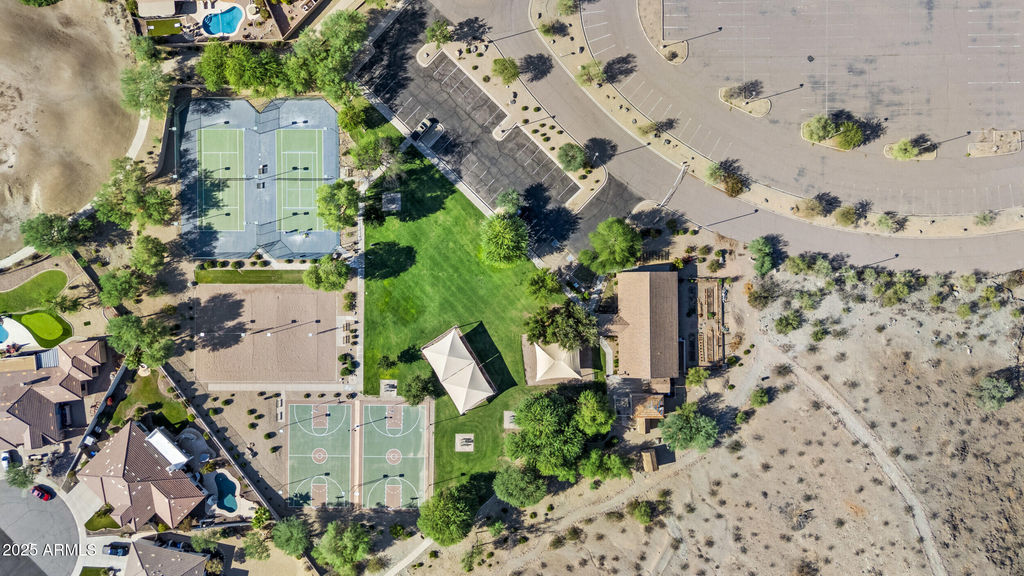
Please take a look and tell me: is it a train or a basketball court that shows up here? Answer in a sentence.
There is a basketball court in the scene.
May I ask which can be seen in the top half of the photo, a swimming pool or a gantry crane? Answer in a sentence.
Looking in the top half of the photo, you will find a swimming pool.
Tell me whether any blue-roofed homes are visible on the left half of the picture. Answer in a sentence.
No, there's no blue-roofed home to be seen on the left half of the picture.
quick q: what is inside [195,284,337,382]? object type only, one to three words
sports court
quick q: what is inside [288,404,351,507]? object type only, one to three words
basketball court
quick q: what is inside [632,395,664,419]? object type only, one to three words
house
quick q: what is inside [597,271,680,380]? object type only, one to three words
building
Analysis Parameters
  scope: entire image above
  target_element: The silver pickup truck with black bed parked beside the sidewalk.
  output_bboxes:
[408,118,431,142]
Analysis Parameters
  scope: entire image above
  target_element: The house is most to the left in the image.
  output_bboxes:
[0,341,103,449]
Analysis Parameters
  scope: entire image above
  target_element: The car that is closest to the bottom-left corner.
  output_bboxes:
[29,487,49,502]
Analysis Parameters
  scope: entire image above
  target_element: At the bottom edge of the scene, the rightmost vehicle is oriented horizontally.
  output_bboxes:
[102,545,129,557]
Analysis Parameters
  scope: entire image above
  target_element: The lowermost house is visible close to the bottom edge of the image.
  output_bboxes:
[124,538,210,576]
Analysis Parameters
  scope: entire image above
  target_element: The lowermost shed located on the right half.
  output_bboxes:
[641,449,658,475]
